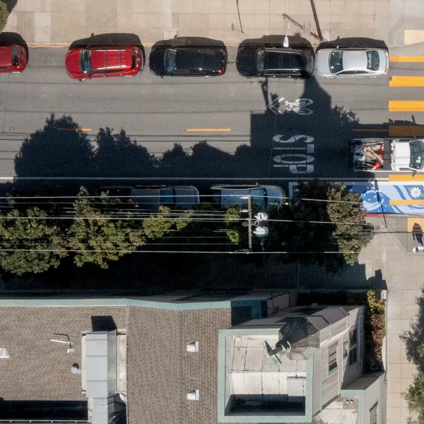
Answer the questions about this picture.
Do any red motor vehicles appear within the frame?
Yes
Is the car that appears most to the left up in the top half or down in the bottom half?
top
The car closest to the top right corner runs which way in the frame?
from left to right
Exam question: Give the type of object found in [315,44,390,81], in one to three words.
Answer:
car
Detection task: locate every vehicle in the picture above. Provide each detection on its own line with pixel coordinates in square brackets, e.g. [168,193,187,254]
[0,43,33,75]
[67,43,147,81]
[315,44,390,81]
[151,43,230,79]
[348,134,424,174]
[103,179,199,213]
[209,180,287,214]
[236,43,315,81]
